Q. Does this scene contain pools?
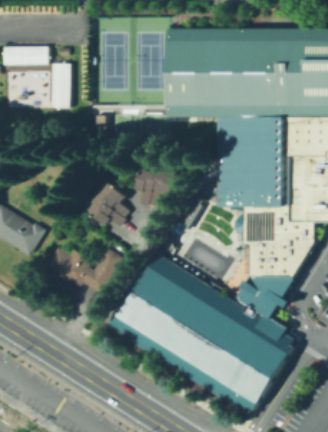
Yes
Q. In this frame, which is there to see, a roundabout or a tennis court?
tennis court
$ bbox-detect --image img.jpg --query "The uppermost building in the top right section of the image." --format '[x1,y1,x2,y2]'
[163,29,328,116]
